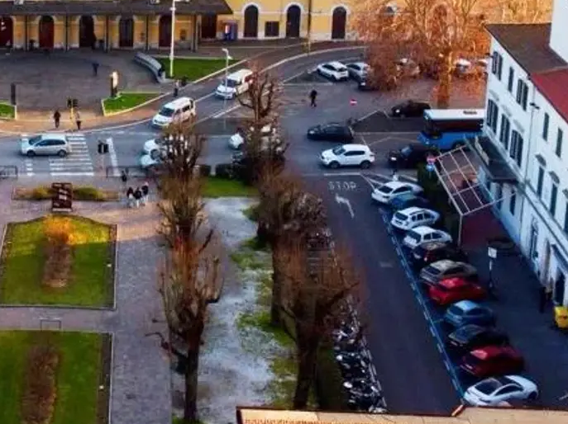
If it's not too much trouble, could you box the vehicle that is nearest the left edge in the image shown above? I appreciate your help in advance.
[19,128,73,153]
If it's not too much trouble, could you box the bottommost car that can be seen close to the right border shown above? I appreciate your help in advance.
[462,367,542,402]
